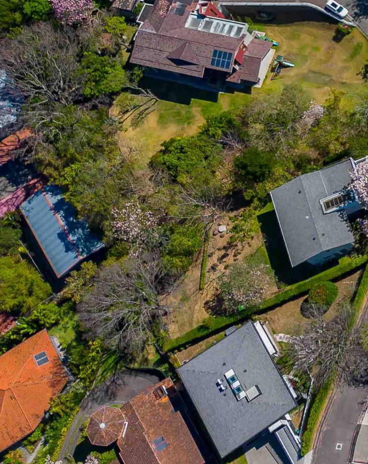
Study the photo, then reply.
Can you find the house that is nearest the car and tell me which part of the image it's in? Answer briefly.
top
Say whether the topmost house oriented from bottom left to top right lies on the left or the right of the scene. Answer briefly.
left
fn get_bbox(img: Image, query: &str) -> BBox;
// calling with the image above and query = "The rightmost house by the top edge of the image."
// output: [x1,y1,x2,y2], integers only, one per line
[130,0,276,83]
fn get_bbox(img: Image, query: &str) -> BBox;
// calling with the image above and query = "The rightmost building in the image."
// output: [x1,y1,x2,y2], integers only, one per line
[269,156,368,267]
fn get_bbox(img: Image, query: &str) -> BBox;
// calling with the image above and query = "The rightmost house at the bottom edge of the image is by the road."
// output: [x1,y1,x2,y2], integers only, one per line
[178,318,305,464]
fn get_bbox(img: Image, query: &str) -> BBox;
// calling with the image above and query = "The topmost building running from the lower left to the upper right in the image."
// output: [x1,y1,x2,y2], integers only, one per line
[0,127,43,163]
